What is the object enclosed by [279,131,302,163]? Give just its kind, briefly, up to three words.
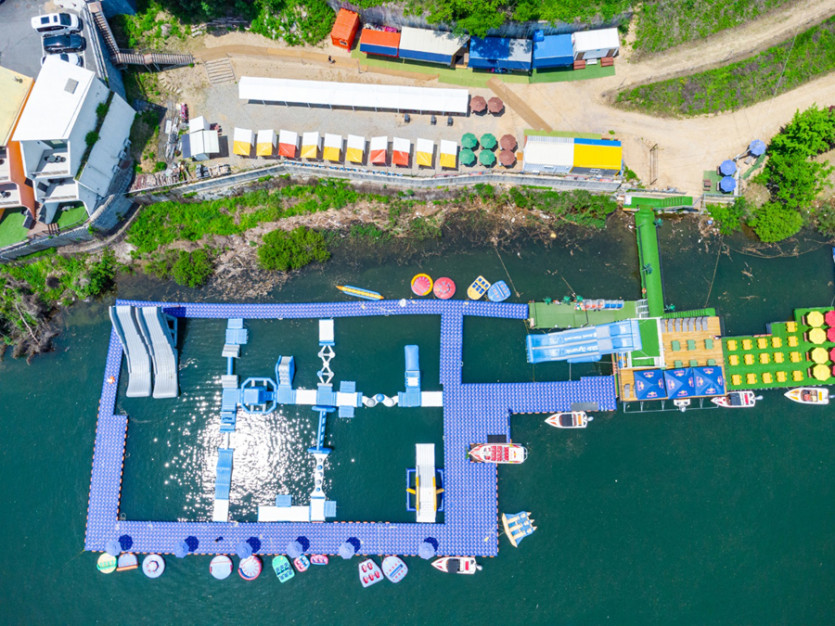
tent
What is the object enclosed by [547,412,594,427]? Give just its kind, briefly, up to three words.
boat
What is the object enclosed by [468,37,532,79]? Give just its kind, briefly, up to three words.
building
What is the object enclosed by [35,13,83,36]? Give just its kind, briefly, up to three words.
car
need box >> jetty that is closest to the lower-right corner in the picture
[721,306,835,392]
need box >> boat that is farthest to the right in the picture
[786,389,833,404]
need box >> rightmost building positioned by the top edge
[572,28,620,62]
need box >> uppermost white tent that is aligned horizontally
[237,77,469,118]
